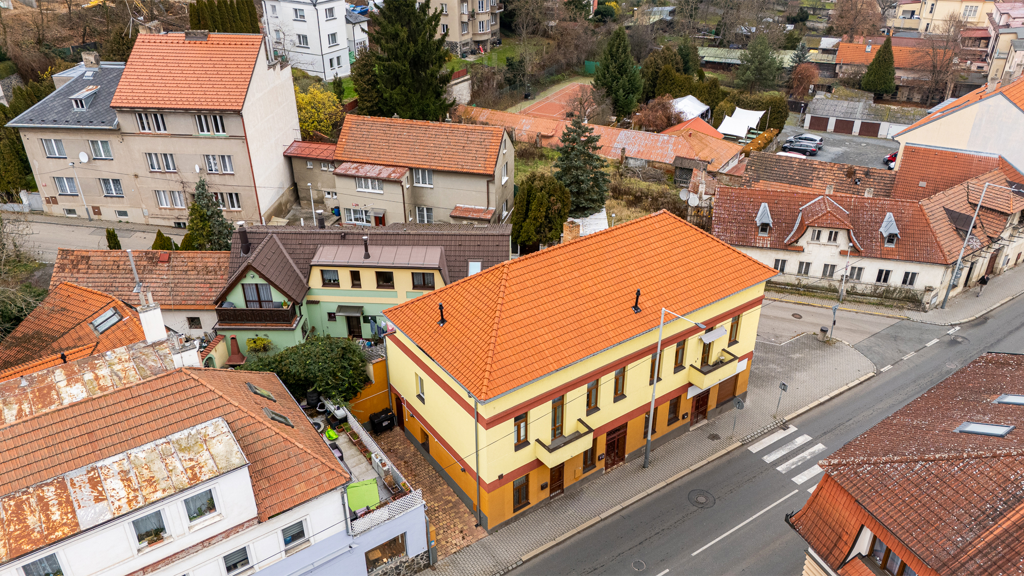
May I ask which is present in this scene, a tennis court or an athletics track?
tennis court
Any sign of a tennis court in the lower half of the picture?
No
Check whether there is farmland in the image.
No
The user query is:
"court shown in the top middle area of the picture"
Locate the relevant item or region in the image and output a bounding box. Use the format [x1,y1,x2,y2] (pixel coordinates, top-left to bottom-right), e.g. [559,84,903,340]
[526,82,614,127]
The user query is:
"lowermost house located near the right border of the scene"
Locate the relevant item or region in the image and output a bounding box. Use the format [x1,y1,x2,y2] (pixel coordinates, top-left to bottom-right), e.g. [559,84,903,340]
[771,346,1024,576]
